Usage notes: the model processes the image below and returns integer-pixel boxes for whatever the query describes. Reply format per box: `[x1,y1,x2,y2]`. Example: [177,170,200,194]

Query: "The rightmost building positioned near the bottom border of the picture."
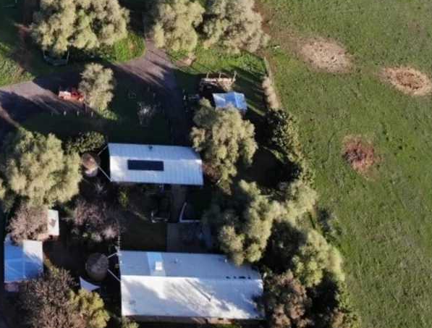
[112,245,267,327]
